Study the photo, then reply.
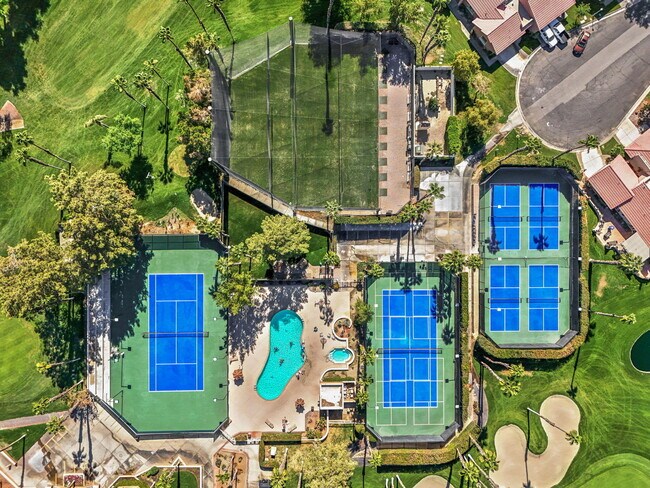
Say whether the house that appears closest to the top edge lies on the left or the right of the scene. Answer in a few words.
right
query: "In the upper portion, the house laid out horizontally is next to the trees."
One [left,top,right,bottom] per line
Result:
[448,0,577,58]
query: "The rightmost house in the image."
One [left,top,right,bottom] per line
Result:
[581,108,650,261]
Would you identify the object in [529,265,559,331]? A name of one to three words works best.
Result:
sports court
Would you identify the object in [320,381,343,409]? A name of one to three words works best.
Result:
building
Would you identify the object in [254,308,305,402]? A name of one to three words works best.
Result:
swimming pool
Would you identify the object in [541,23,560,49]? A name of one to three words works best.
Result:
car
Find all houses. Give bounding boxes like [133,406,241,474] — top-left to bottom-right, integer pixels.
[581,108,650,261]
[448,0,577,58]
